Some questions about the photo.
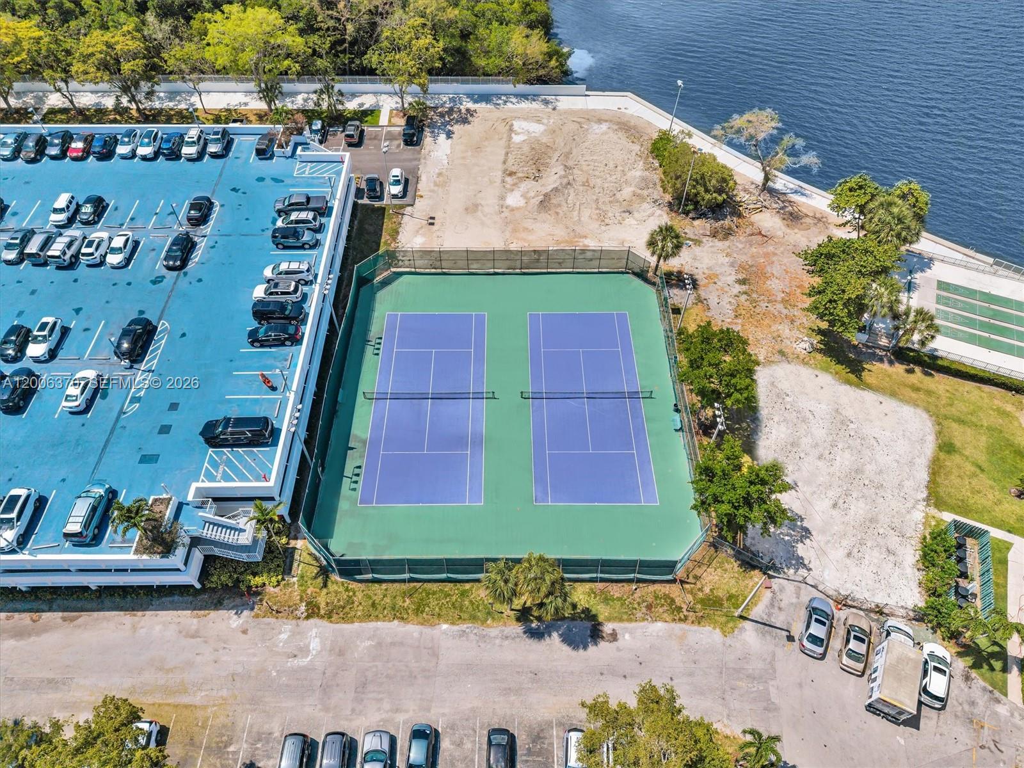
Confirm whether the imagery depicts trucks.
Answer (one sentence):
Yes, a truck is visible in the scene.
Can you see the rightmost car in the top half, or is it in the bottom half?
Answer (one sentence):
The bottom half of the photo is where the rightmost car is.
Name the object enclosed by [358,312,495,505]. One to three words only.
tennis court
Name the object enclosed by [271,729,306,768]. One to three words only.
car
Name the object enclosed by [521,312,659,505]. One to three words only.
tennis court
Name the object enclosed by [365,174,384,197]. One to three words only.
car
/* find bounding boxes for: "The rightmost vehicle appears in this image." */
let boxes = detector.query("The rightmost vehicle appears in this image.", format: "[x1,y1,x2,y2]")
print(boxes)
[920,640,954,711]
